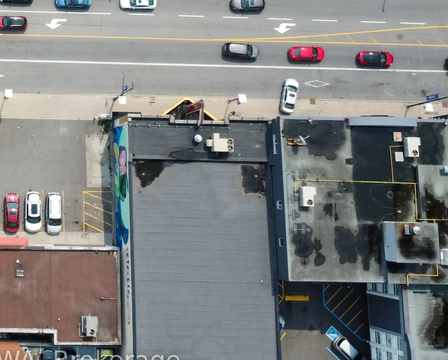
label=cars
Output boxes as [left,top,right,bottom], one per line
[228,0,267,13]
[223,43,260,60]
[118,0,157,10]
[41,348,56,360]
[55,0,92,8]
[4,193,21,232]
[286,45,325,62]
[279,77,300,114]
[45,192,64,235]
[0,13,27,30]
[62,348,77,360]
[24,191,44,232]
[330,331,368,360]
[355,50,394,67]
[99,348,114,360]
